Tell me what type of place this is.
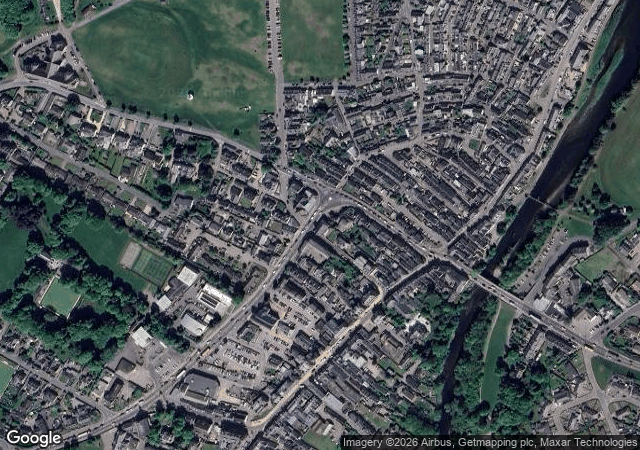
residential area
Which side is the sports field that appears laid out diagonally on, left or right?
left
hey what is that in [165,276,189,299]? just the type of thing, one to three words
building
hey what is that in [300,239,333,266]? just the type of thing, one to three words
building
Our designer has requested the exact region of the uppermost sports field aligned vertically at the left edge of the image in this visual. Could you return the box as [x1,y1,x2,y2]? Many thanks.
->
[0,218,28,301]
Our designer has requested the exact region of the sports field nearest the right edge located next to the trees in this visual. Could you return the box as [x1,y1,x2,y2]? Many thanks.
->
[74,216,158,296]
